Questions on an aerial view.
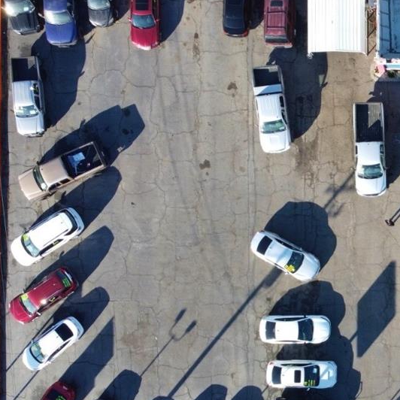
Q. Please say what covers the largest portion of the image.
paved ground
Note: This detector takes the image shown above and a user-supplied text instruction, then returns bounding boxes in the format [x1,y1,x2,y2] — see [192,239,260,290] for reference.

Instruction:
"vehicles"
[15,208,86,264]
[84,0,120,29]
[262,0,298,47]
[253,230,318,281]
[21,141,109,199]
[253,64,293,154]
[2,0,44,36]
[223,0,253,37]
[261,314,333,346]
[13,266,82,323]
[40,0,80,48]
[25,314,87,369]
[352,102,388,198]
[268,359,338,391]
[128,0,163,50]
[40,378,78,400]
[7,55,50,139]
